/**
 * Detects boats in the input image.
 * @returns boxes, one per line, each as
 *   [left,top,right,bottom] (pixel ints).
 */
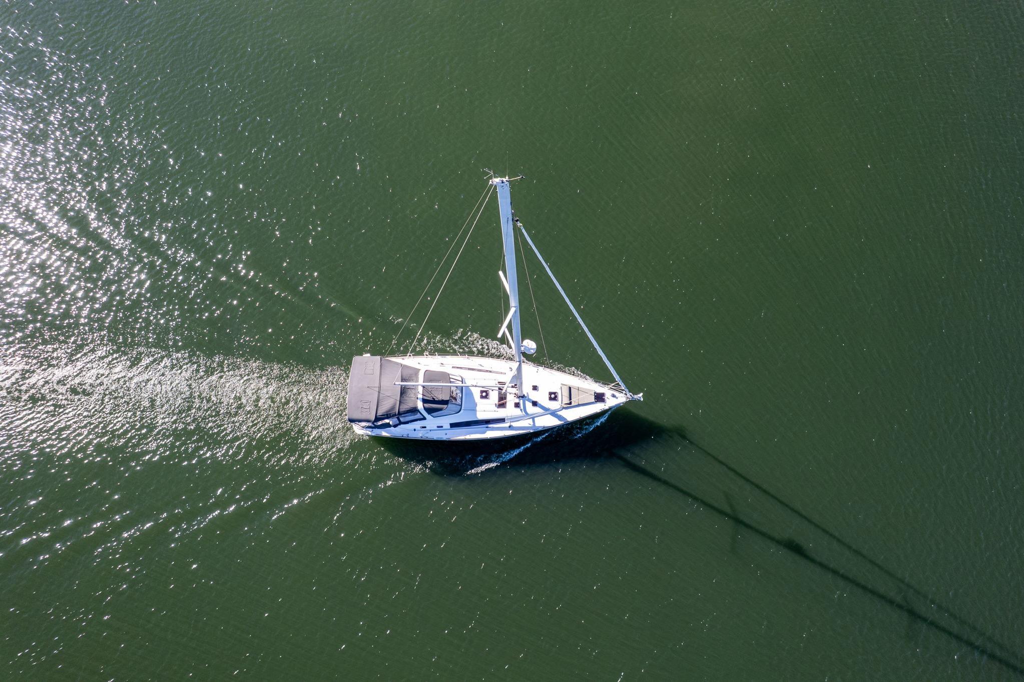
[347,168,646,442]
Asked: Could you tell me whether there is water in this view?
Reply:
Yes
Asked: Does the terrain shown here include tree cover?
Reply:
No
